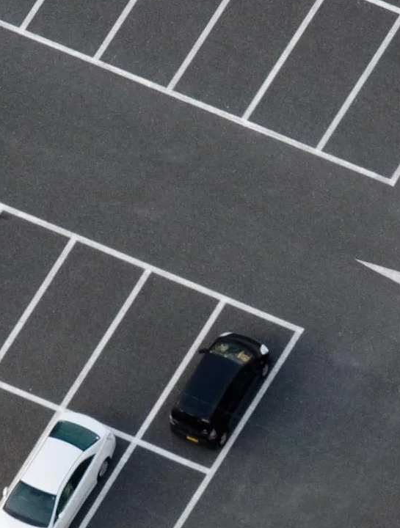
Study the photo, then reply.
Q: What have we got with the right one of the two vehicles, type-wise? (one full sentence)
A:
It looks like the right one of the two vehicles is an automobile.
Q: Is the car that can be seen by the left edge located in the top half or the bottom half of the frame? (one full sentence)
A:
It is in the bottom half that the car that can be seen by the left edge appears.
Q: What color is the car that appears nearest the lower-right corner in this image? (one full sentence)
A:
The car that appears nearest the lower-right corner is black.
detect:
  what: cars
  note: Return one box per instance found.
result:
[0,414,114,528]
[171,334,272,450]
